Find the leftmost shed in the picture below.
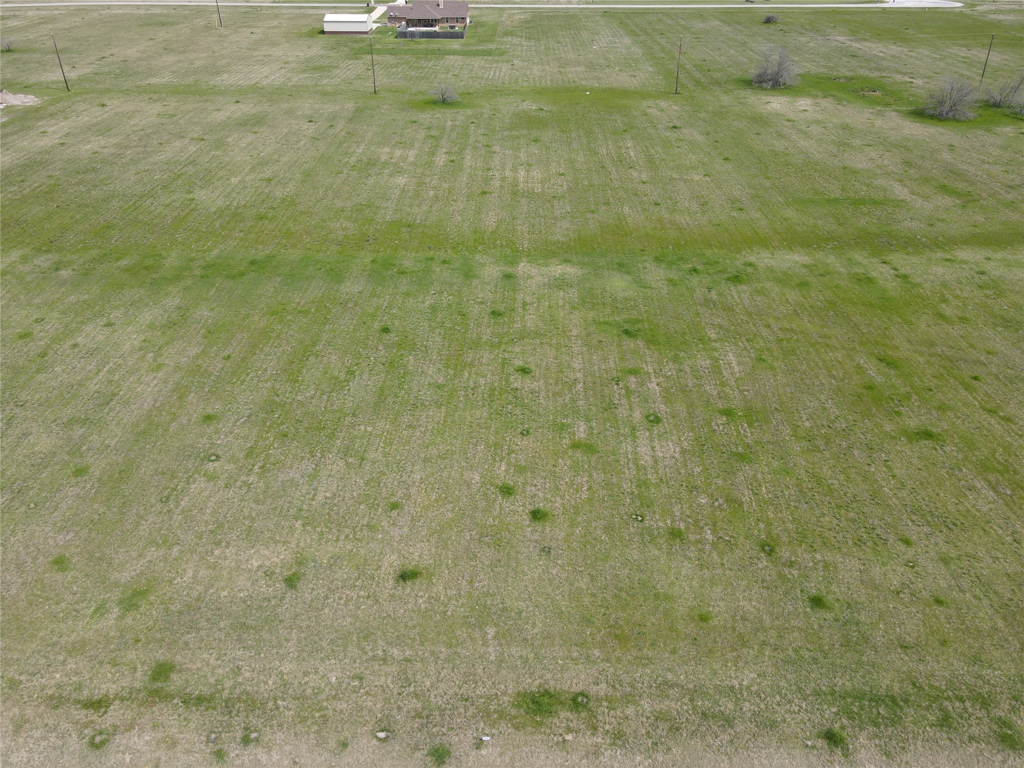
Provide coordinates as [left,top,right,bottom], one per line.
[322,14,373,35]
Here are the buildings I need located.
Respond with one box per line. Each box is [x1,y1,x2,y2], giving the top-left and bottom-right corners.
[322,14,373,35]
[385,0,470,28]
